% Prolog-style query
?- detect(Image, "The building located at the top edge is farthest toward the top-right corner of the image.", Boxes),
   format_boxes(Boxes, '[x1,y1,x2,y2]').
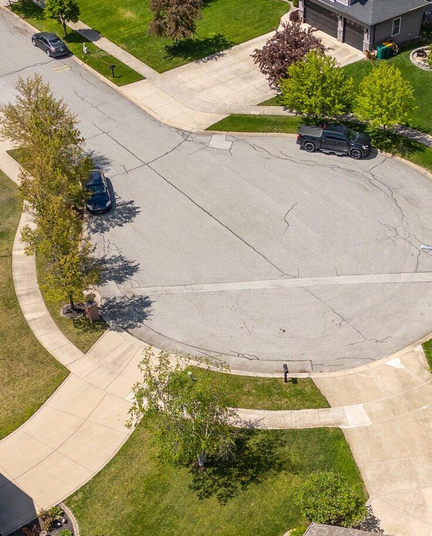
[304,0,432,54]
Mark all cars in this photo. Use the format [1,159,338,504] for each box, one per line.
[31,28,68,53]
[84,167,113,210]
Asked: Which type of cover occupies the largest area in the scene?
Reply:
paved ground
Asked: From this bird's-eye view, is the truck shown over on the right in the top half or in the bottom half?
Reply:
top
